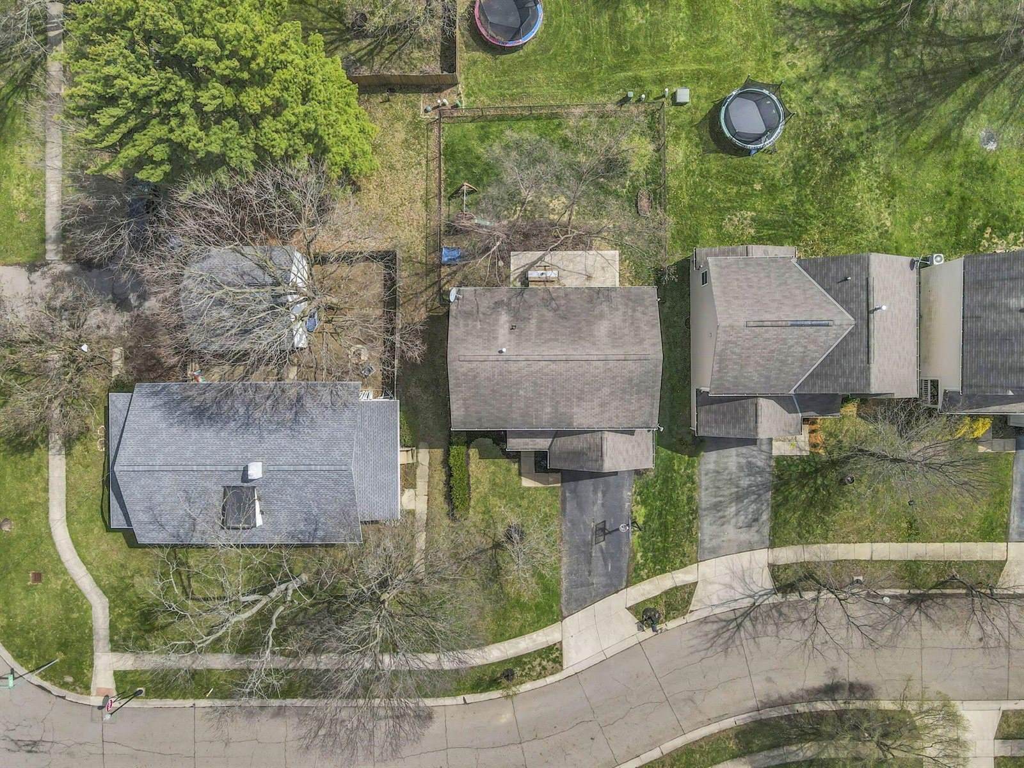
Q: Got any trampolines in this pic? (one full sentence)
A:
Yes, I can see a trampoline in this picture.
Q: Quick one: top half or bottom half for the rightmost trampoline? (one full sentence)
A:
It is in the top half that the rightmost trampoline appears.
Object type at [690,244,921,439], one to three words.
house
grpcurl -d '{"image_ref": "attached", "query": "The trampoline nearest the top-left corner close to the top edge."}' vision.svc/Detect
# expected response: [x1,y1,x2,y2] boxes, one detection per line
[472,0,546,53]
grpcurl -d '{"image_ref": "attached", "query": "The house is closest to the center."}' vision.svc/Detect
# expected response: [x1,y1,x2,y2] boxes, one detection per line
[447,286,665,472]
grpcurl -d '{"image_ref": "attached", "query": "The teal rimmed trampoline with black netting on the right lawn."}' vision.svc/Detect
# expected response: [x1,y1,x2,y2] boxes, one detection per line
[716,75,796,160]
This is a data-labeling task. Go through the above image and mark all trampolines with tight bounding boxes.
[716,75,796,160]
[472,0,546,53]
